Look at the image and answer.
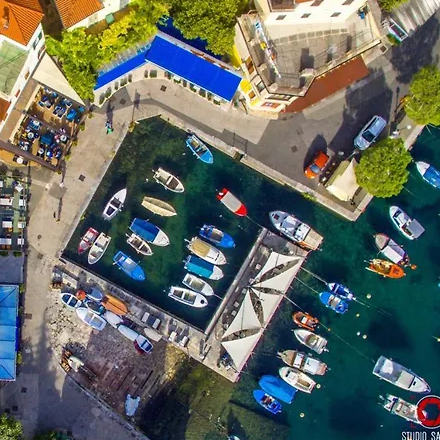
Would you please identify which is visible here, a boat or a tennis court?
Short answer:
boat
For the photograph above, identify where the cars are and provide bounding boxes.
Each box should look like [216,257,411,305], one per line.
[350,112,391,154]
[302,149,333,180]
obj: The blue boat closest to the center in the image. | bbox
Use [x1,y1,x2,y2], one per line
[198,223,237,247]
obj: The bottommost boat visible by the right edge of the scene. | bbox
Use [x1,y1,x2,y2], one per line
[379,390,435,424]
